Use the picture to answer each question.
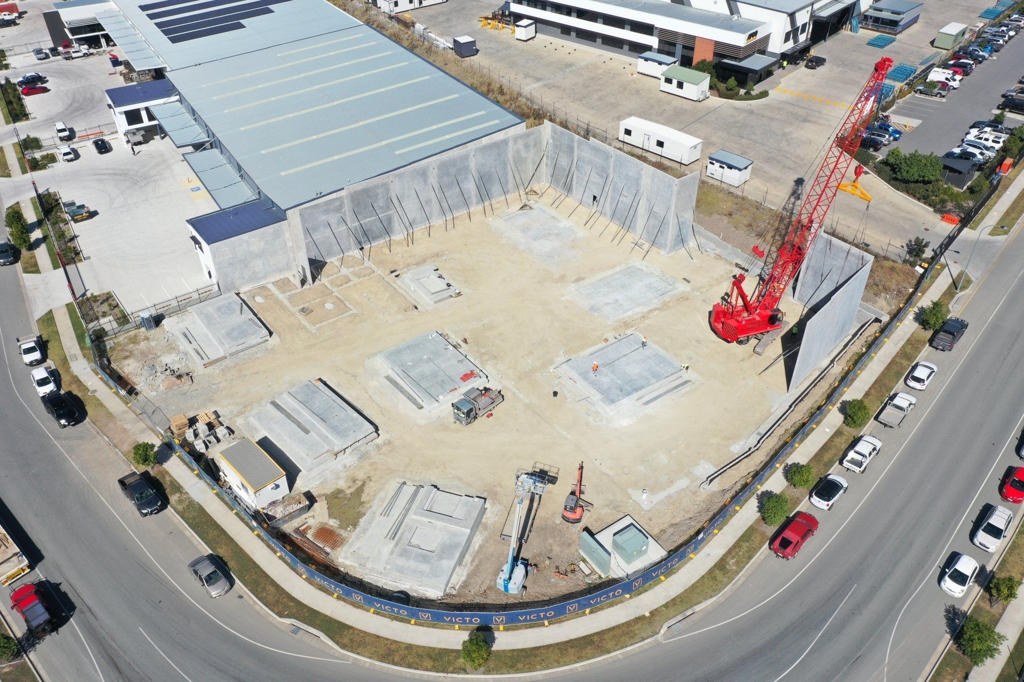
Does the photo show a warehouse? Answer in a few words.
Yes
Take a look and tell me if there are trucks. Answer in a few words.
Yes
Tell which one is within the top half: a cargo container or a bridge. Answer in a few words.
cargo container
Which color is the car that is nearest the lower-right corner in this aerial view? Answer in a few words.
white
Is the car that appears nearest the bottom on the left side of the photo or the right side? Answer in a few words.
left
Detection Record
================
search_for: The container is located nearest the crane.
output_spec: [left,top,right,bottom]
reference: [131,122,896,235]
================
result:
[935,22,968,49]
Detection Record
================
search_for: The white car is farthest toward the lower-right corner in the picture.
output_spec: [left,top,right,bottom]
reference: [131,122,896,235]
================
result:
[940,550,980,601]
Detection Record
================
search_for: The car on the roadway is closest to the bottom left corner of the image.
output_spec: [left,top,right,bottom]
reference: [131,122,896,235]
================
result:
[10,580,54,634]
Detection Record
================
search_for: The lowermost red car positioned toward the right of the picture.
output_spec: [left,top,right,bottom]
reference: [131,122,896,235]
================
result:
[773,514,816,559]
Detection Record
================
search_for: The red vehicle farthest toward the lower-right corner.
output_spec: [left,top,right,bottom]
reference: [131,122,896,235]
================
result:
[1000,462,1024,504]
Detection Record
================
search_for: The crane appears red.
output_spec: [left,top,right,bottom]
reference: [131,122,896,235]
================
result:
[711,63,892,359]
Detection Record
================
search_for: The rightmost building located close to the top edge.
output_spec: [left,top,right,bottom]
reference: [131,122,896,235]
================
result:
[862,0,924,42]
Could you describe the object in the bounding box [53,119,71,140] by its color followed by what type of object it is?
white car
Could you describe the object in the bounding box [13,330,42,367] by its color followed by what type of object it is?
white truck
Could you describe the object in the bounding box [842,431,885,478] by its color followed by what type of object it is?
white truck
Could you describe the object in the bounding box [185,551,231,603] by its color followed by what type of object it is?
gray car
